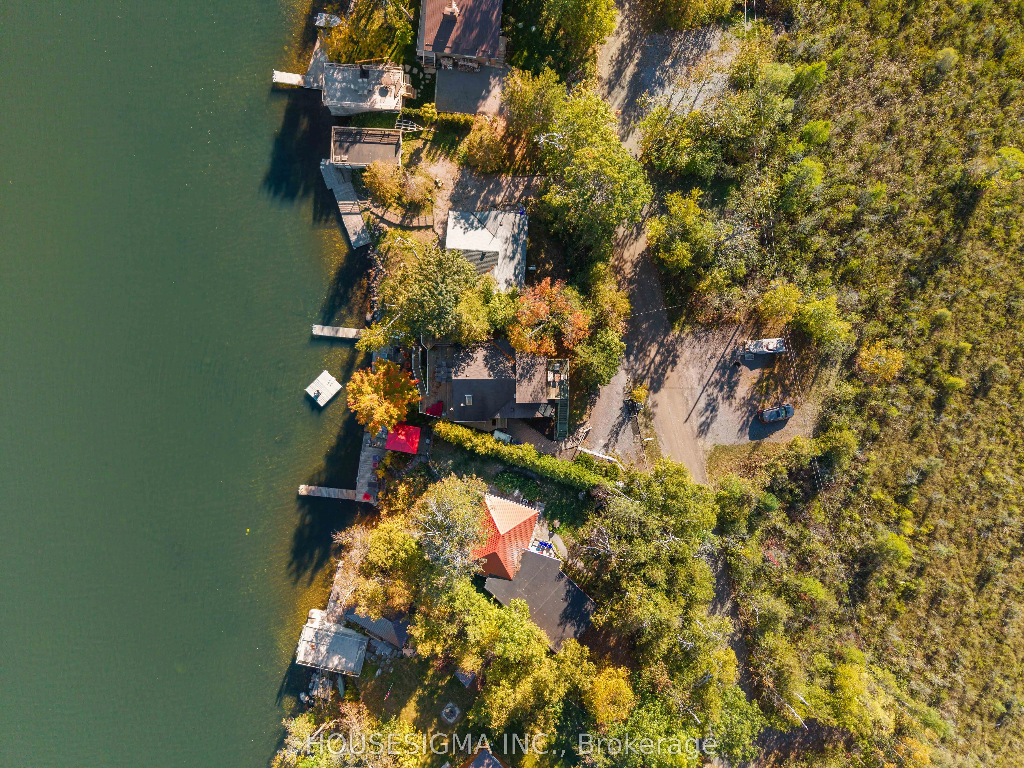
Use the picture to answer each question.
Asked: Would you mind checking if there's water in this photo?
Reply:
Yes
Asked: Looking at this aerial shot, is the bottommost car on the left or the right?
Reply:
right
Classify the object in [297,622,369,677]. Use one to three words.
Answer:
building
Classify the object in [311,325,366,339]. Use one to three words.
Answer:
pier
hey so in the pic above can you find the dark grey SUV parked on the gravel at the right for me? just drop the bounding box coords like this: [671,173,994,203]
[754,403,794,424]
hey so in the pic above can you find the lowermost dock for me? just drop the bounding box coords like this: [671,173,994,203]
[297,485,356,500]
